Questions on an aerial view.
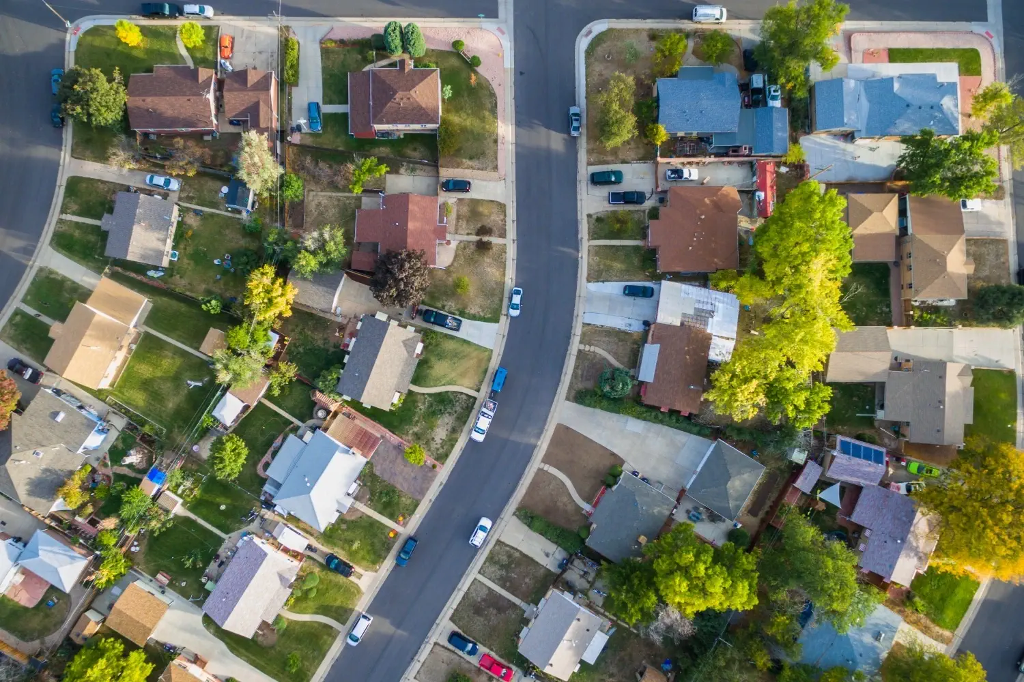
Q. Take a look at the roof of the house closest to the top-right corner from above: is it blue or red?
blue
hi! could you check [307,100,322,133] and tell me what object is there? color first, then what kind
blue car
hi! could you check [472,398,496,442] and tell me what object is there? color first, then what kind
white truck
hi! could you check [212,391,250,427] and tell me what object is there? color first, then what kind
white tent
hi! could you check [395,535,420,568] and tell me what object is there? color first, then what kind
blue truck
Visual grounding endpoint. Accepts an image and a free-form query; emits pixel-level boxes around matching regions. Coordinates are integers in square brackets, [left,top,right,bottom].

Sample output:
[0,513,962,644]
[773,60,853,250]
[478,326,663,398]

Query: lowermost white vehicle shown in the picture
[348,611,372,646]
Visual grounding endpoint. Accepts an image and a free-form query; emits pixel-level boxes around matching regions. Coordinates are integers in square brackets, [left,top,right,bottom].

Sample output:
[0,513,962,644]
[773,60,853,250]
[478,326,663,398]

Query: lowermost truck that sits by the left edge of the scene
[5,357,45,386]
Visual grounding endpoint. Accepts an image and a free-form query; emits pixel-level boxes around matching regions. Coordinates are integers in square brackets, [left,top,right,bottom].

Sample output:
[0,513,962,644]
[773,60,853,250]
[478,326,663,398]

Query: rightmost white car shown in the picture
[963,197,982,211]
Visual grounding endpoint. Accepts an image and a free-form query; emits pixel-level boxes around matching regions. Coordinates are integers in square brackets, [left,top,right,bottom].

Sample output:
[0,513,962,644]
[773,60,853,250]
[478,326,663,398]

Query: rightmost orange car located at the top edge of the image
[219,34,234,61]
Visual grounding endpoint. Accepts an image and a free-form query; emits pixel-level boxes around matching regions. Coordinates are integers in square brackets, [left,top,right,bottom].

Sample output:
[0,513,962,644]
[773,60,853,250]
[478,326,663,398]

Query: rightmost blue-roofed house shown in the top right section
[811,71,958,138]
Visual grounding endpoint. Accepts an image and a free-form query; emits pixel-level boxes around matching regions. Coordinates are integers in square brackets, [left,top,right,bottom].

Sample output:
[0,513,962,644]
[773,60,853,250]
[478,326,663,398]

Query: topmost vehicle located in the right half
[691,3,728,21]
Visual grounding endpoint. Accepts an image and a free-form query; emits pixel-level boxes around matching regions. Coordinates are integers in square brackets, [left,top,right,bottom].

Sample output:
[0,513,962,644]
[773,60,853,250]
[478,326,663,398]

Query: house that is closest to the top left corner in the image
[123,64,221,132]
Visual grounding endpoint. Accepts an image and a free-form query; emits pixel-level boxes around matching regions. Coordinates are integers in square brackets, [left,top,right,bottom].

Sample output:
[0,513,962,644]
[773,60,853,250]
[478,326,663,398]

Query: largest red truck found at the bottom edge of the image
[478,655,514,680]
